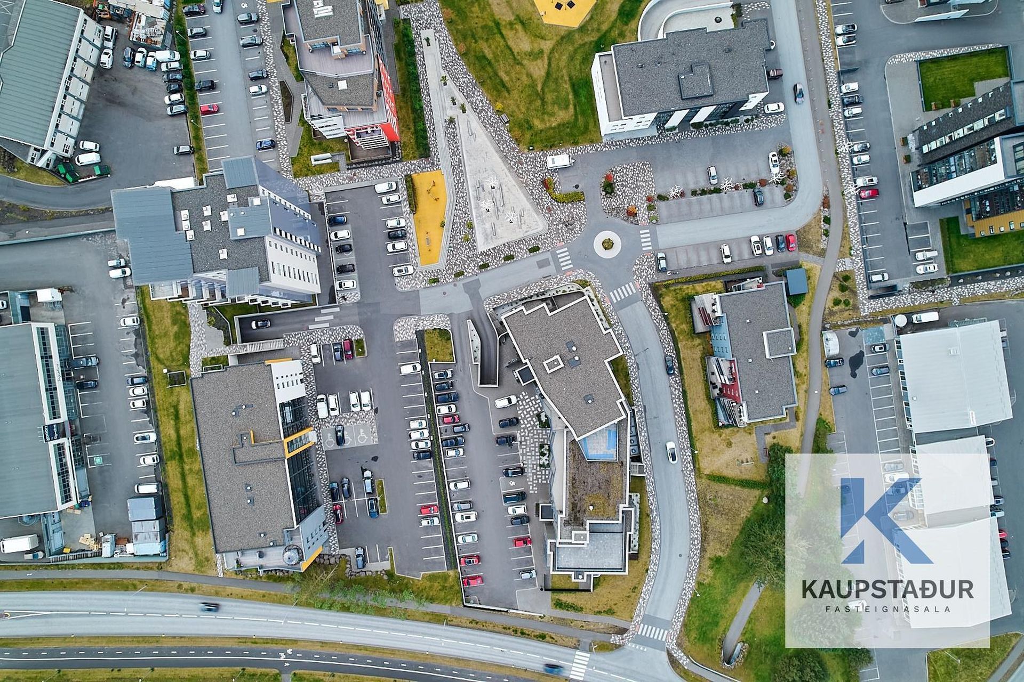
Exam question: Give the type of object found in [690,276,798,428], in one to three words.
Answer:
building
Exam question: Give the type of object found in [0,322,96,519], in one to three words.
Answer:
building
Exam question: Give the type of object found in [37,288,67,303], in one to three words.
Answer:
vehicle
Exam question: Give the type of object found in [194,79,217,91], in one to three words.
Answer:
vehicle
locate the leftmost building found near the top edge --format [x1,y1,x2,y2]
[0,0,105,168]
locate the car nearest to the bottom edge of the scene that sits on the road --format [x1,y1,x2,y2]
[544,663,563,675]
